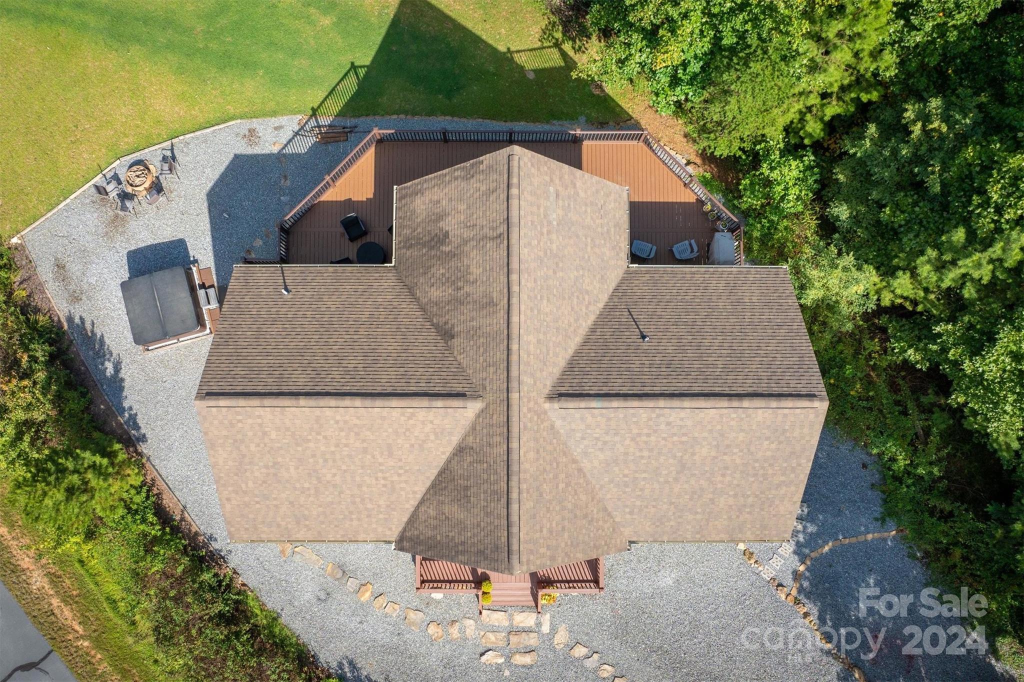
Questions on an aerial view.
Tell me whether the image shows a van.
No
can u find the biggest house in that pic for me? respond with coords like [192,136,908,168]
[194,145,830,577]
